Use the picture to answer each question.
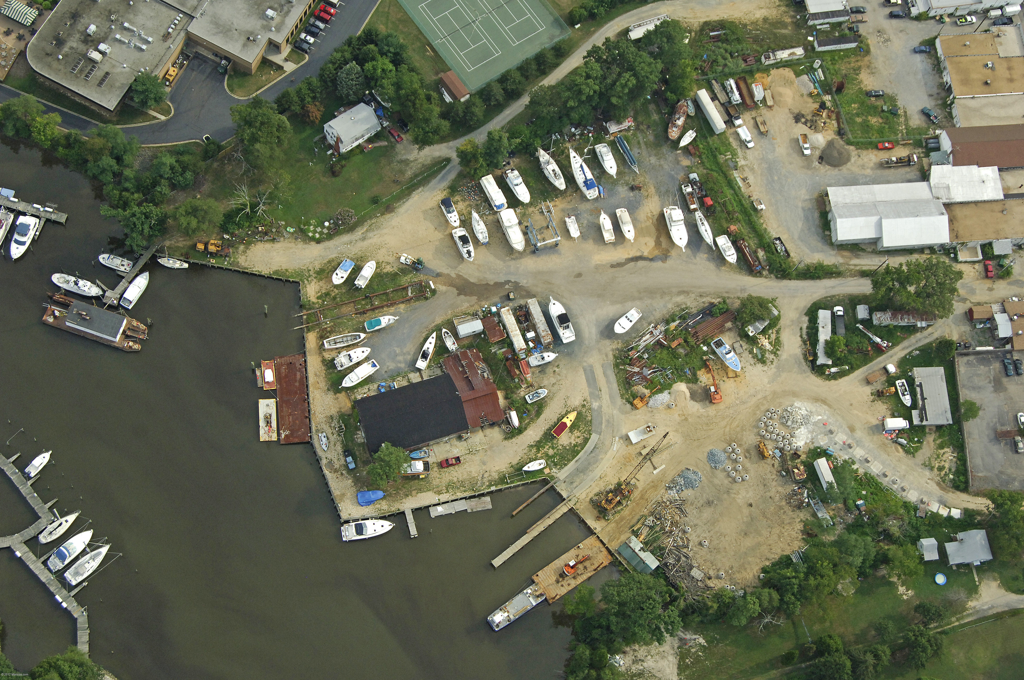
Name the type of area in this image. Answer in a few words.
port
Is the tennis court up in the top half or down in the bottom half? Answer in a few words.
top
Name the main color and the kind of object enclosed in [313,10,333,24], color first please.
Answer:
red car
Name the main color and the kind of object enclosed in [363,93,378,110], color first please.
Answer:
black vehicle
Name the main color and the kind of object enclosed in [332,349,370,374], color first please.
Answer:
white boat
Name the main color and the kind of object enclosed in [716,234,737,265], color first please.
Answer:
white boat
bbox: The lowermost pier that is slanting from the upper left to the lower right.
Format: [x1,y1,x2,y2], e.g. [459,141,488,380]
[11,537,92,652]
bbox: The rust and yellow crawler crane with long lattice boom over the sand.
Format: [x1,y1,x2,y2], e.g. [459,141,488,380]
[596,431,669,515]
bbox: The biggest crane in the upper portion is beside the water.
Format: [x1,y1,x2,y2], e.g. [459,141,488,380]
[193,230,264,263]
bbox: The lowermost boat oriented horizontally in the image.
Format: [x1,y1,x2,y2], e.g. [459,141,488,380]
[338,519,396,542]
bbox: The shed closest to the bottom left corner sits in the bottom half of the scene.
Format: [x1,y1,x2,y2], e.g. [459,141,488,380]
[354,373,469,456]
